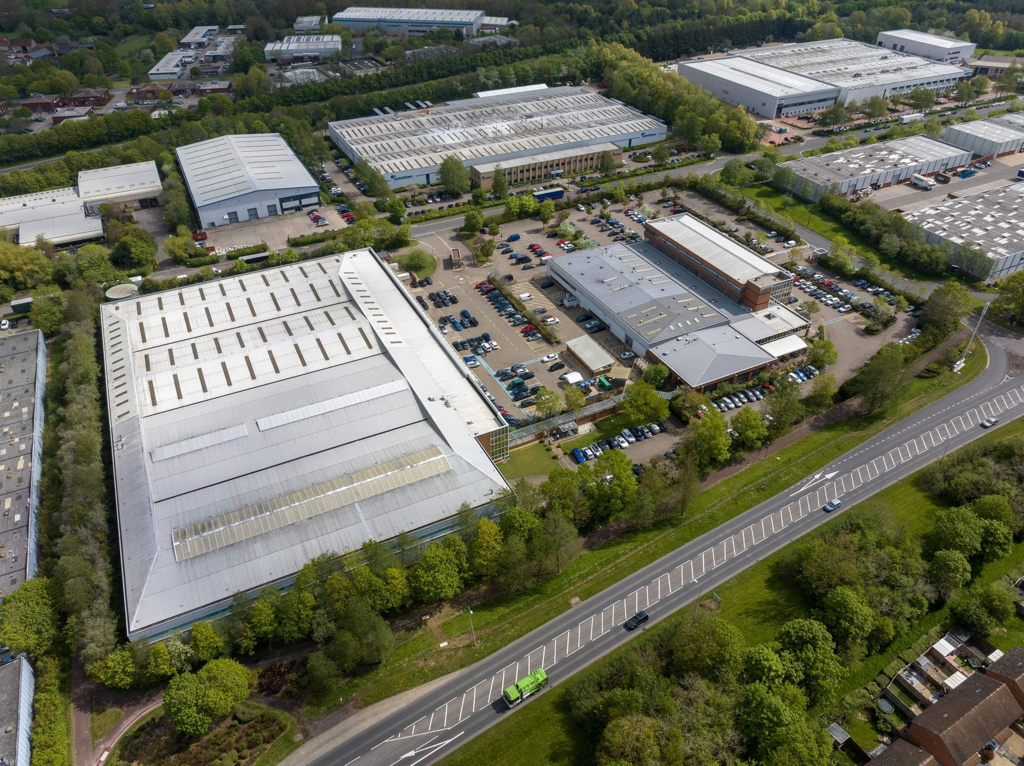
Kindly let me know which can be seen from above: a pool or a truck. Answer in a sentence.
This aerial view contains a truck.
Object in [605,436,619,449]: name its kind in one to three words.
vehicle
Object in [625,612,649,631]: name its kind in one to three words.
car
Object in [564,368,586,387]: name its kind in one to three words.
gazebo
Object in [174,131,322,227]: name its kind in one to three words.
shed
